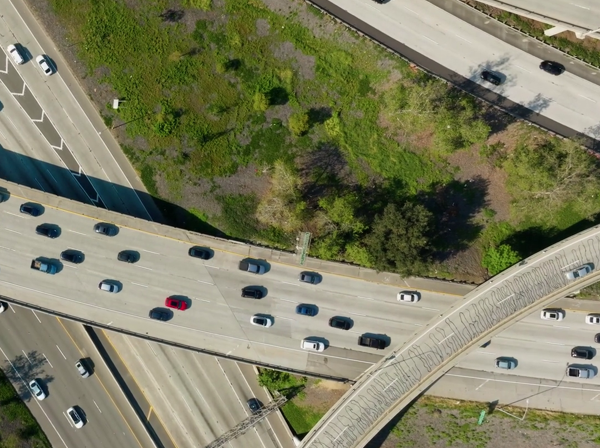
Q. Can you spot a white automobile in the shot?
Yes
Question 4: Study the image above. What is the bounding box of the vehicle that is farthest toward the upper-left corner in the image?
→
[6,43,24,66]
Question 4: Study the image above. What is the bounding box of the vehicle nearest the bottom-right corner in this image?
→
[567,366,595,378]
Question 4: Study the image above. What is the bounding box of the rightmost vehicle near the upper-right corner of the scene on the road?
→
[539,59,562,75]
